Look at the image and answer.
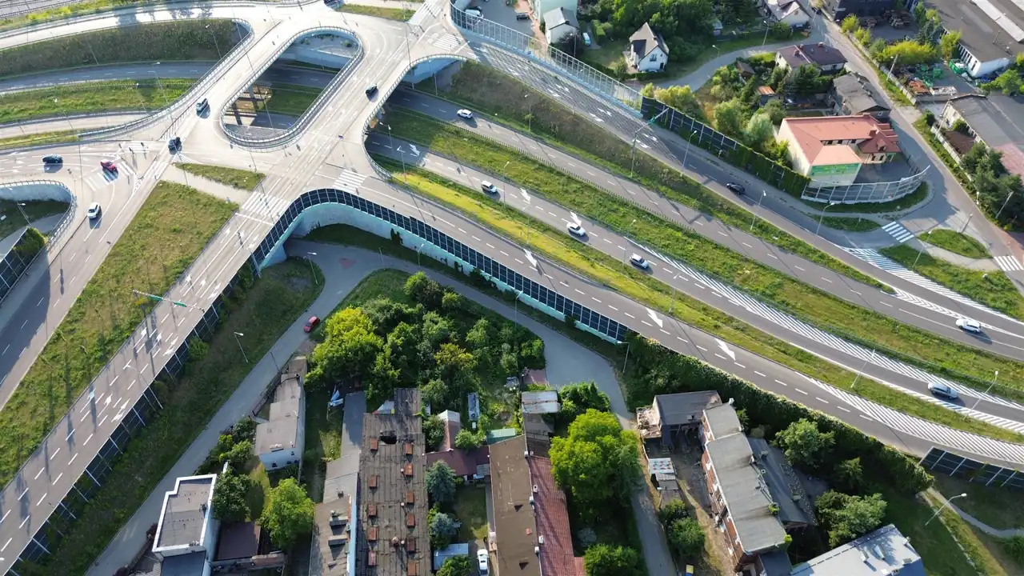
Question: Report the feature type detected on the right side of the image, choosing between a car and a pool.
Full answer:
Visible on the right side of the image is a car.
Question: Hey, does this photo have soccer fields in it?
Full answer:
No, the photo shows no soccer field.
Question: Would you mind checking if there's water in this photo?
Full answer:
No, the scene doesn't show any water.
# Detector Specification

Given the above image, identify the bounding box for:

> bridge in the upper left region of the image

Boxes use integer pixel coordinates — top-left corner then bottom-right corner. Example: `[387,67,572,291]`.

[49,0,506,243]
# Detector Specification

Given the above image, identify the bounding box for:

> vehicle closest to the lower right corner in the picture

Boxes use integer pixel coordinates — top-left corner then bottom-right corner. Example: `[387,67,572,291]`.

[930,381,958,398]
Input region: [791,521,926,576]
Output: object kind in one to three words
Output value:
building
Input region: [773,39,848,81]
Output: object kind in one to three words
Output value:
house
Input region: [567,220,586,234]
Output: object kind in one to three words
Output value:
car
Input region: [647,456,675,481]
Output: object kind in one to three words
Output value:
shed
